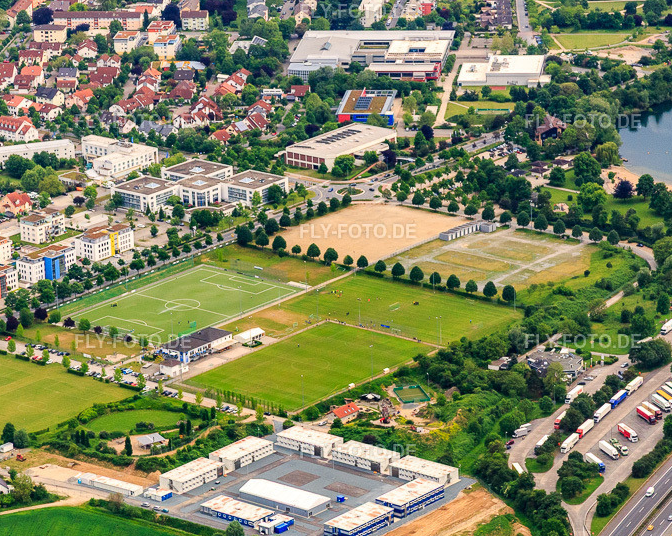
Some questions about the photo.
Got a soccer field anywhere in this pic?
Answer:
Yes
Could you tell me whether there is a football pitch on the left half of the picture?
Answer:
Yes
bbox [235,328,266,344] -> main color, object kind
white tent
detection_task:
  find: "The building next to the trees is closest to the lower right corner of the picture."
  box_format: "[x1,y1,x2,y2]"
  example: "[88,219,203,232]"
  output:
[529,349,583,378]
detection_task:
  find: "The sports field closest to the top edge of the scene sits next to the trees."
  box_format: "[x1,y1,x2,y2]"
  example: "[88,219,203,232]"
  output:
[281,203,467,262]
